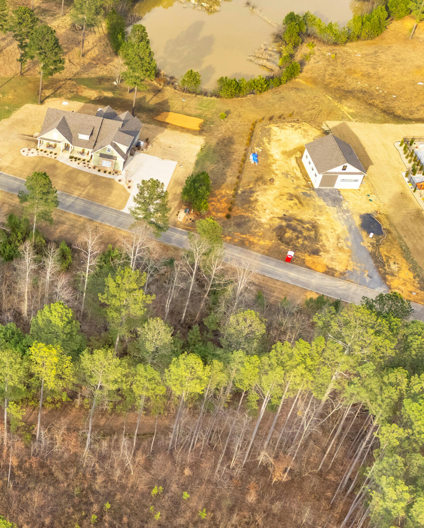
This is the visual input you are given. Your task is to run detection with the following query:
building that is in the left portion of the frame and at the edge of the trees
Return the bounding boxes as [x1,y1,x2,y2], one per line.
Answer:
[36,107,145,170]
